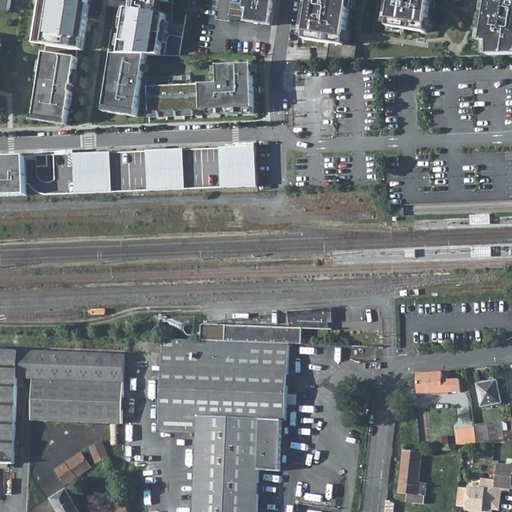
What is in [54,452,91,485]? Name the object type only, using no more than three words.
barn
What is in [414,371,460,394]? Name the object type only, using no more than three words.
house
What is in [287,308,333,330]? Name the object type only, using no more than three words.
building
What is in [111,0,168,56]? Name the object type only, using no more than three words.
building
